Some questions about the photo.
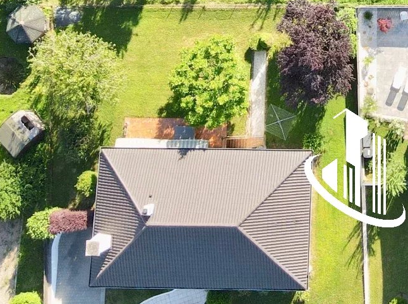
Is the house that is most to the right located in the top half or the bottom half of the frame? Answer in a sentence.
The house that is most to the right sits in the bottom half of the picture.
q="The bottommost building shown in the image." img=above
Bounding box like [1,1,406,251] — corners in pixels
[83,146,315,293]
